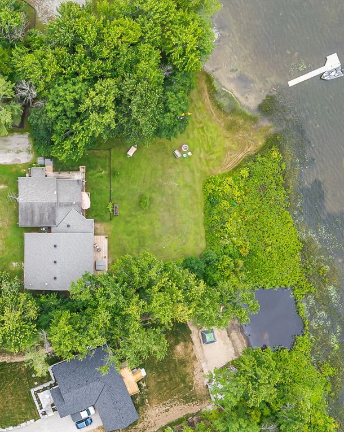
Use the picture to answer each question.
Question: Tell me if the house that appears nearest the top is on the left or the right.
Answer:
left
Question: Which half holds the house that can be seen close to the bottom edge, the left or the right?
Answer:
left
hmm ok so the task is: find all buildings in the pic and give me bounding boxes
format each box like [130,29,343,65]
[7,165,108,291]
[50,344,144,431]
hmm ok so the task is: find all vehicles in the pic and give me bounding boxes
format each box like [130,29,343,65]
[70,406,95,422]
[75,416,93,429]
